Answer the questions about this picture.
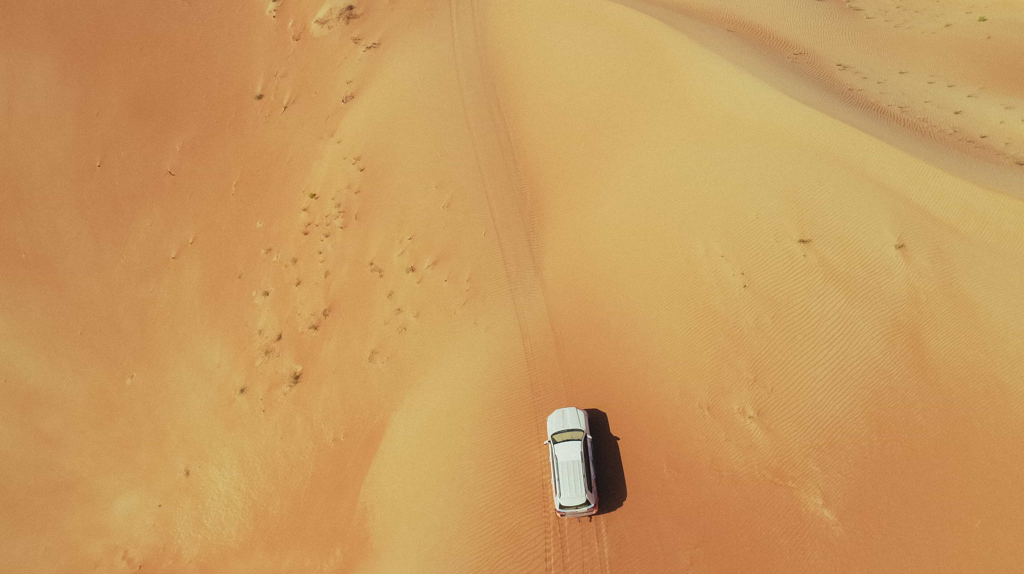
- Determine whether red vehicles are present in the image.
No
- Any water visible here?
No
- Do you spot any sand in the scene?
Yes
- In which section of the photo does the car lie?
bottom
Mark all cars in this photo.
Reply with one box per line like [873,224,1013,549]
[542,406,598,522]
